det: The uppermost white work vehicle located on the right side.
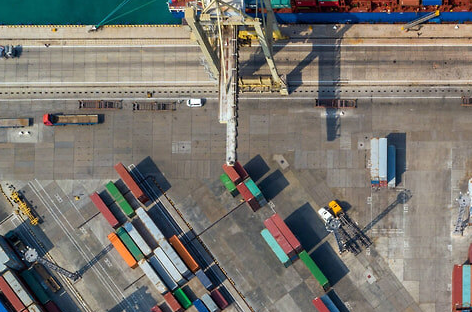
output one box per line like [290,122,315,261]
[316,204,331,222]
